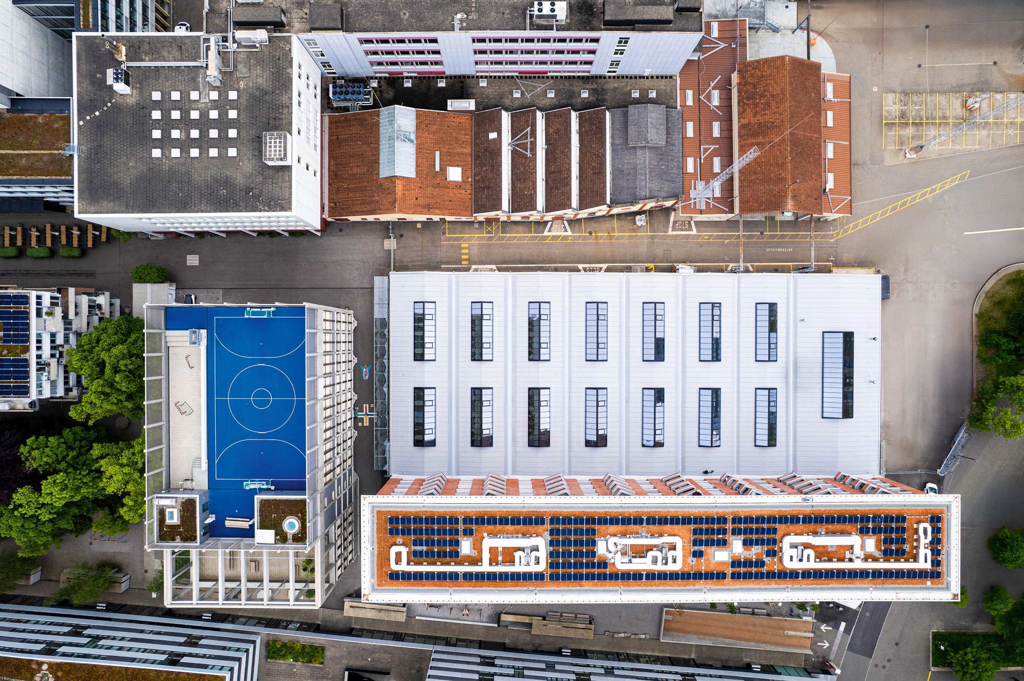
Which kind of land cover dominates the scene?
buildings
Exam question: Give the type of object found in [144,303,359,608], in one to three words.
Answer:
building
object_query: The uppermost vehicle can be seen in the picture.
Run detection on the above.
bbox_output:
[174,17,186,31]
